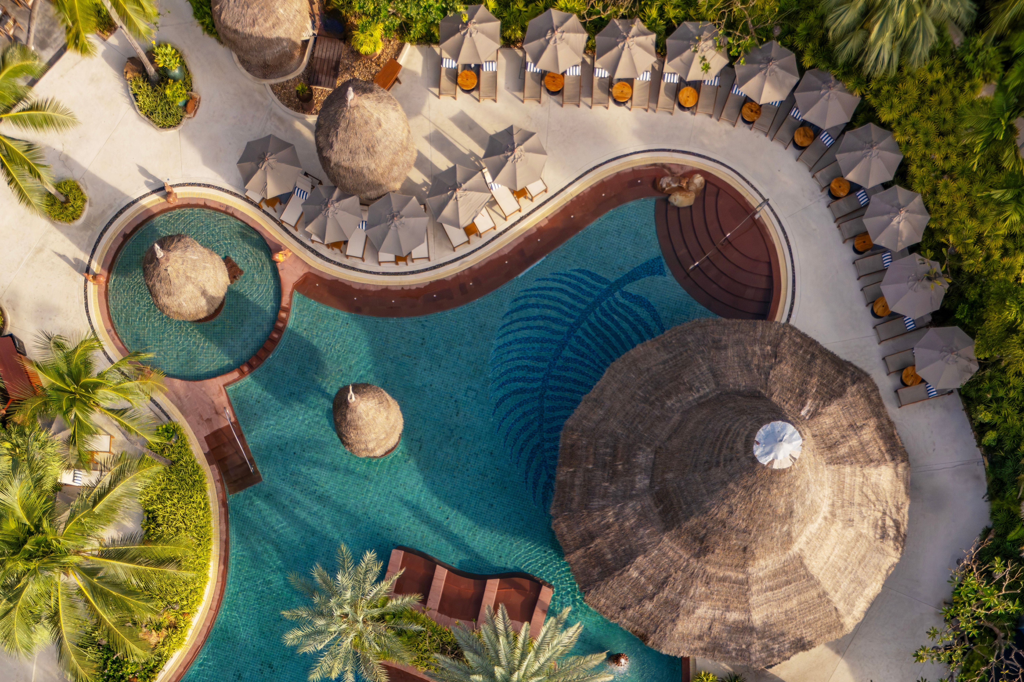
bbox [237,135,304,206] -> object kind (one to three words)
umbrella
